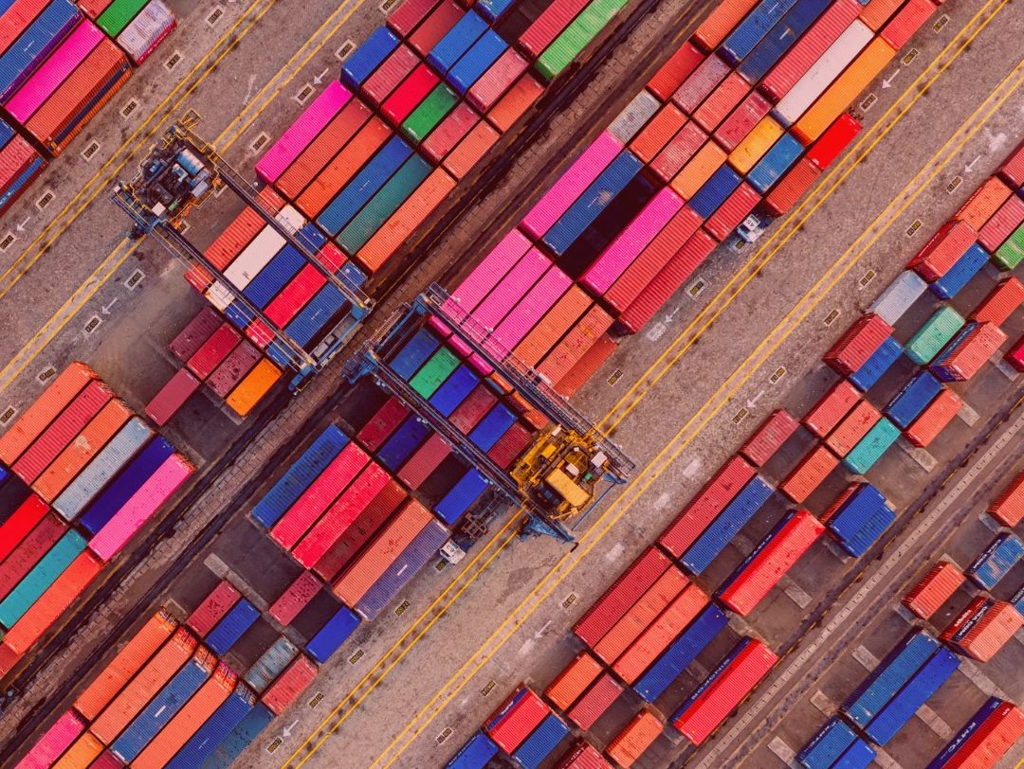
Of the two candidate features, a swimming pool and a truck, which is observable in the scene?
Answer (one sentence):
Of the two, only a truck appears.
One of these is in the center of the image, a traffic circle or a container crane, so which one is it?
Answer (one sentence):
The feature located in the center of the image is a container crane.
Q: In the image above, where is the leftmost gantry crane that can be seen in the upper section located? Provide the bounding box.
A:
[100,100,380,397]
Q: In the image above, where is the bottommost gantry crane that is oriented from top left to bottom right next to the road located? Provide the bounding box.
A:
[339,269,642,553]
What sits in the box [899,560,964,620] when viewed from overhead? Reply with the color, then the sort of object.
red shipping container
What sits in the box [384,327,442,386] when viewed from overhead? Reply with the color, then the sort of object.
blue shipping container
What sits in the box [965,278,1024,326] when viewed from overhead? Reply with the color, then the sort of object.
red shipping container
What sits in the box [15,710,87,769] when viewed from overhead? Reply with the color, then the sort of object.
pink shipping container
